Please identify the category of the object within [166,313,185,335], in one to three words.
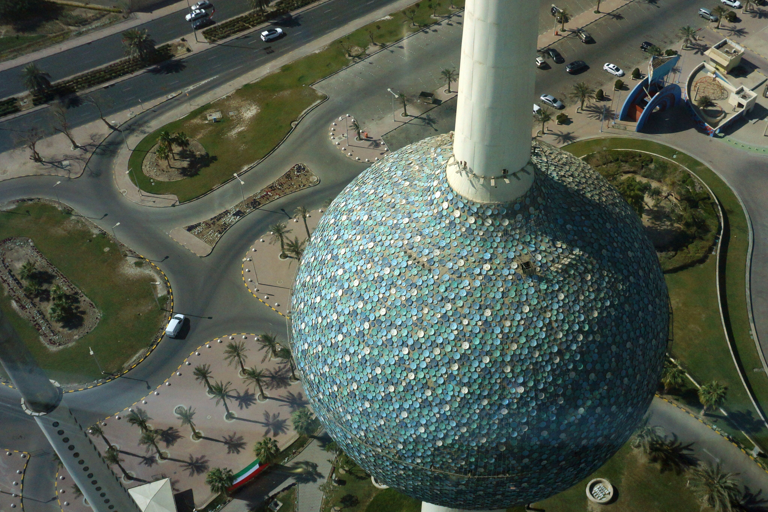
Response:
vehicle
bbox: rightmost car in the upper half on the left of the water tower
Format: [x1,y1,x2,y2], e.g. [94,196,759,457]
[260,27,283,41]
